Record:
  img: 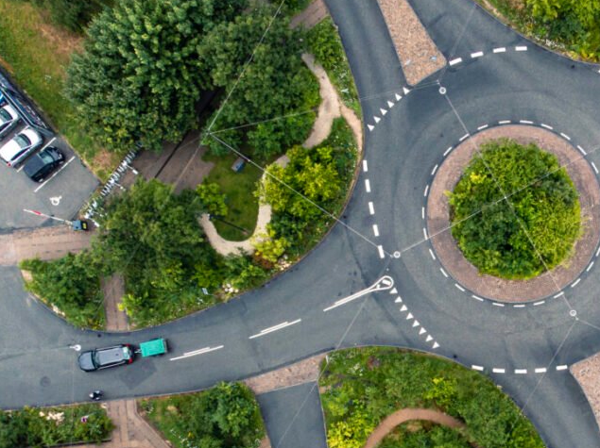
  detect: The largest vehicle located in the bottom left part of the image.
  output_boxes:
[80,344,135,371]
